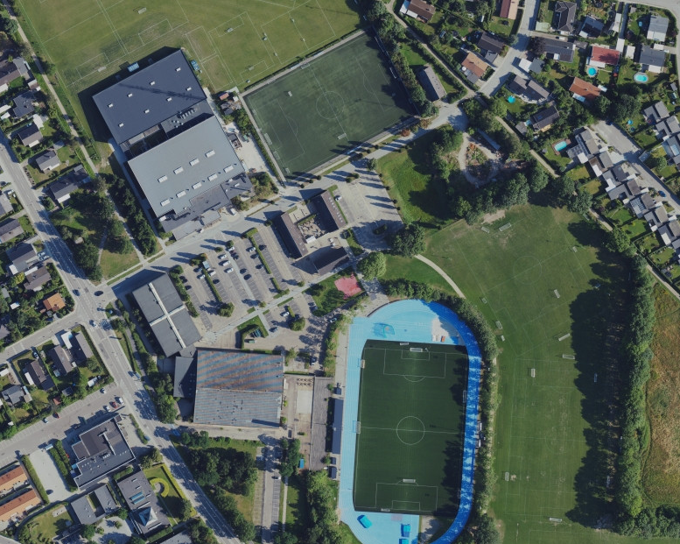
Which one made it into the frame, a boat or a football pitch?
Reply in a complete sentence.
There is a football pitch in the scene.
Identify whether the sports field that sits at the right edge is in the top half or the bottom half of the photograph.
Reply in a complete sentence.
The sports field that sits at the right edge is in the bottom half of the image.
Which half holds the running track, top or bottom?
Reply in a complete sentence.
The running track sits in the bottom half of the picture.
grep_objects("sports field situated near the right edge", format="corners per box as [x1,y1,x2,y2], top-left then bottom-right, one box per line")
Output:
[430,201,680,544]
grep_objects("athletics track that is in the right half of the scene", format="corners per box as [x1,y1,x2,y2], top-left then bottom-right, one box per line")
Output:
[338,299,481,544]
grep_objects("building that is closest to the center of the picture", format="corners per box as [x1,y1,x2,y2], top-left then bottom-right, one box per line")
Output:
[314,246,351,276]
